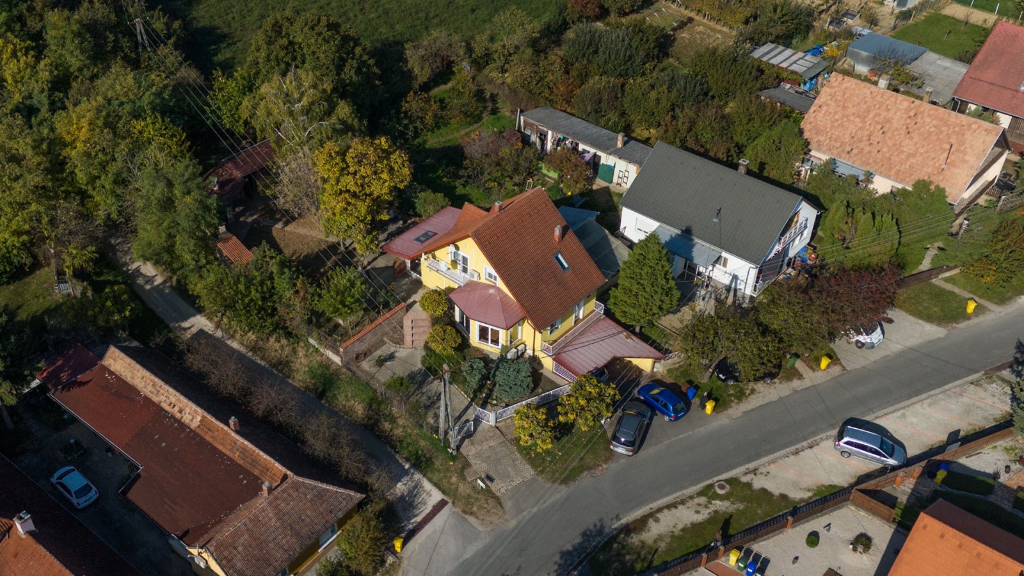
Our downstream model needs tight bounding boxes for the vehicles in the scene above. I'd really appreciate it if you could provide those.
[836,420,911,469]
[640,379,695,421]
[848,323,887,345]
[606,402,651,458]
[590,363,626,390]
[45,464,99,508]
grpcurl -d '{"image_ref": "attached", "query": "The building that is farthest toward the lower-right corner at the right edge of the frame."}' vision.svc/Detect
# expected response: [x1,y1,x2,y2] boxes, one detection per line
[888,490,1024,576]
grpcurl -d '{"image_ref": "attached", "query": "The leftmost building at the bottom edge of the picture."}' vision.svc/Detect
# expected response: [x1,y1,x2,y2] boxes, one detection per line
[0,451,149,576]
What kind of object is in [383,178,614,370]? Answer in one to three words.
house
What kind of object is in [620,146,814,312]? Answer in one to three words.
house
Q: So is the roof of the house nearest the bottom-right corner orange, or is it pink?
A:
orange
